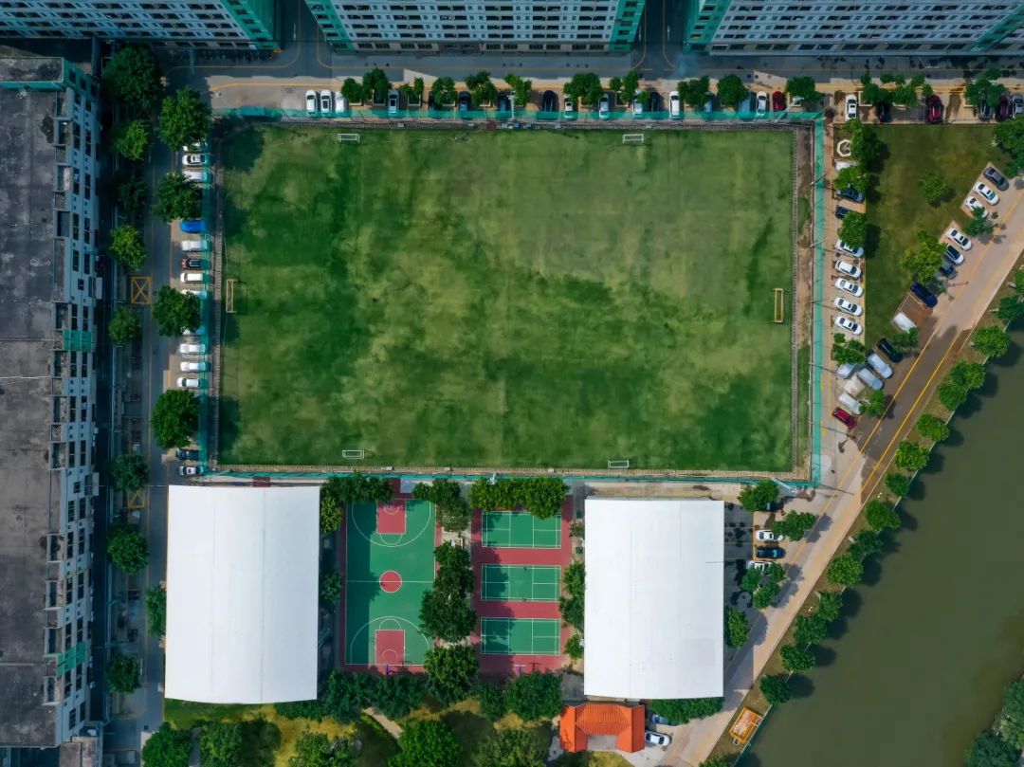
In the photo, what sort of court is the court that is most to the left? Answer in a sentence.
Looking closely, the court that is most to the left is a basketball court.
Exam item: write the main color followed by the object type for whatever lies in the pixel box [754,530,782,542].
white vehicle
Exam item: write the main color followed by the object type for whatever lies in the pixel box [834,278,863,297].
white car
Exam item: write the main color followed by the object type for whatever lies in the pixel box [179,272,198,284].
white vehicle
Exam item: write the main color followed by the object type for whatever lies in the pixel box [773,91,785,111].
red vehicle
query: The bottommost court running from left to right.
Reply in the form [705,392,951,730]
[481,618,560,654]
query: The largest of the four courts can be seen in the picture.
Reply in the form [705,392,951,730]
[338,480,438,676]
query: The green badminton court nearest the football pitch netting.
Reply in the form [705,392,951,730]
[482,511,561,548]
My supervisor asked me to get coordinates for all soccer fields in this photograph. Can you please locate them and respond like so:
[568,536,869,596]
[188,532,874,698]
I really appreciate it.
[206,120,814,481]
